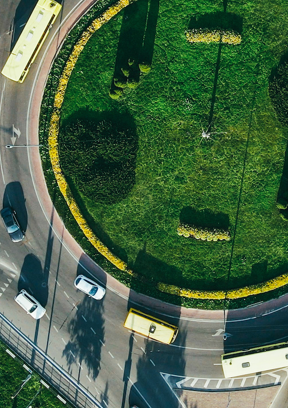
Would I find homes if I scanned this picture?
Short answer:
No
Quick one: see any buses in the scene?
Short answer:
Yes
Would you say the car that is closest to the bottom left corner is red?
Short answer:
No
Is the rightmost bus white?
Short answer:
Yes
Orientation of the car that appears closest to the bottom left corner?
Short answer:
at an angle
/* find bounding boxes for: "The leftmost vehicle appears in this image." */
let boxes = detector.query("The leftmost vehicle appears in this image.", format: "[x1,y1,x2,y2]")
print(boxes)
[0,206,26,241]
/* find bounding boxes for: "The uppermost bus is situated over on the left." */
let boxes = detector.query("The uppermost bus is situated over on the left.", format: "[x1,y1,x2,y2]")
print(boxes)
[1,0,63,85]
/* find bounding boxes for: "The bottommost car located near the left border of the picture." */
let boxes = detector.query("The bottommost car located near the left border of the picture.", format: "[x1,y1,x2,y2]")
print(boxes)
[13,288,46,320]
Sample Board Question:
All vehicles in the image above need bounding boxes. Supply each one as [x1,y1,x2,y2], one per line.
[0,206,26,241]
[73,274,106,300]
[1,0,63,85]
[13,288,46,320]
[123,305,183,349]
[221,339,288,380]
